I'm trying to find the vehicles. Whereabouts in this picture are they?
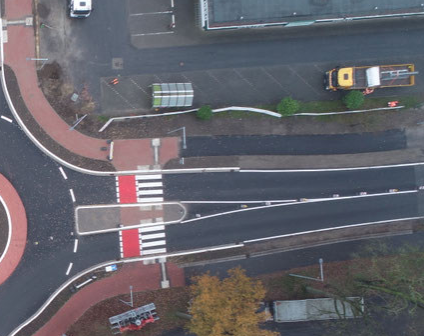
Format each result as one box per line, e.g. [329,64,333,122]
[252,296,369,324]
[320,64,418,92]
[67,0,93,21]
